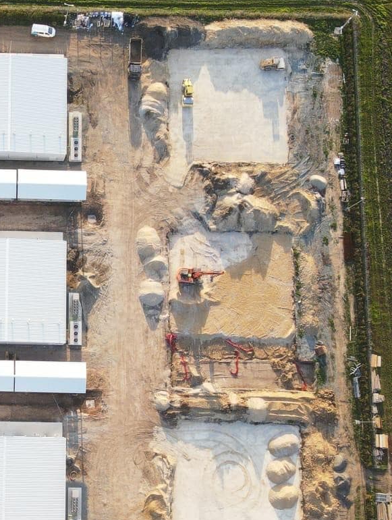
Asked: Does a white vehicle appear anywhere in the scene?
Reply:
Yes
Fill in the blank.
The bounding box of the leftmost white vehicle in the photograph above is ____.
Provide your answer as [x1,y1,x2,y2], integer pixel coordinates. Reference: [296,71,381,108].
[32,21,55,38]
